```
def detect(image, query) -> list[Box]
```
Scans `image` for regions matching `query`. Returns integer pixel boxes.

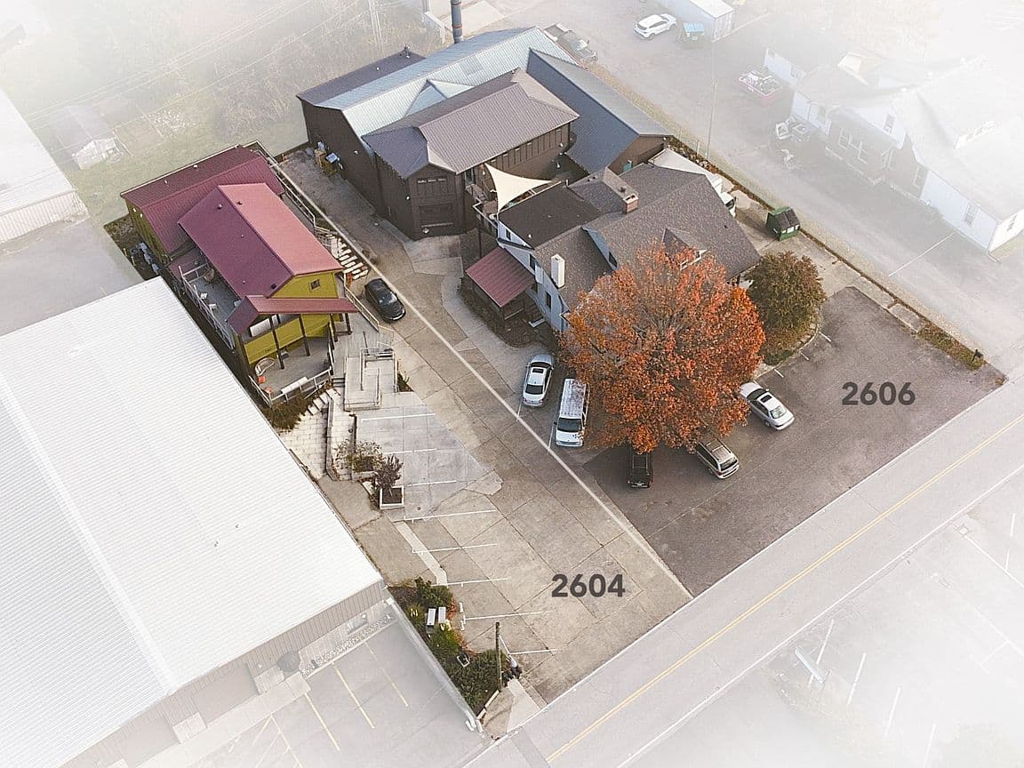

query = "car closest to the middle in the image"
[522,354,554,406]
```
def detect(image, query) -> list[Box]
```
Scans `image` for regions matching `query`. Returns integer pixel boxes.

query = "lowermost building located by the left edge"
[0,278,386,768]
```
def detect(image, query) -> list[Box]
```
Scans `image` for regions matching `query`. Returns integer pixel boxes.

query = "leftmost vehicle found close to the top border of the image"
[544,25,593,61]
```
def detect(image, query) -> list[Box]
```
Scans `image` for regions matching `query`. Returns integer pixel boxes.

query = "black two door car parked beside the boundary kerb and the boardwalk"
[366,276,408,321]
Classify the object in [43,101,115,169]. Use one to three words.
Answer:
shed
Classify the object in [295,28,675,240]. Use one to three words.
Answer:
building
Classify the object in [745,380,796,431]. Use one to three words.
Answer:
car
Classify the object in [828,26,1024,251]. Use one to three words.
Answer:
house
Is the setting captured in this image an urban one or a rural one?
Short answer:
urban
